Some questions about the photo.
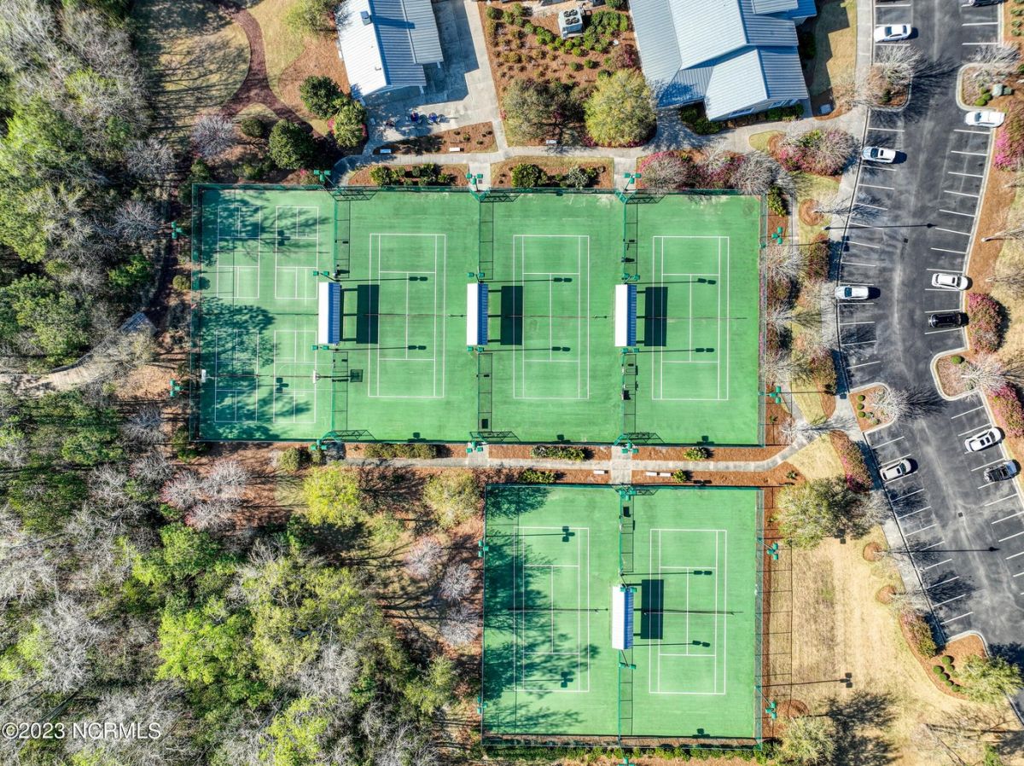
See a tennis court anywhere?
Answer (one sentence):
Yes, there's a tennis court here.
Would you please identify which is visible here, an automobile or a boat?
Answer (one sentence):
Looking from above, you can make out an automobile.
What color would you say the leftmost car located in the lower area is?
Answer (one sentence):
The color of the leftmost car located in the lower area is white.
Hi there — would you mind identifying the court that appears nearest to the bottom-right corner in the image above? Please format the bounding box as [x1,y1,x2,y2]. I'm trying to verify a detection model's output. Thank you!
[619,488,757,738]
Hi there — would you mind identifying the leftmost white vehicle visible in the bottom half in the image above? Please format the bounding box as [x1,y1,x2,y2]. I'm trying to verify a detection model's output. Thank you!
[876,458,911,481]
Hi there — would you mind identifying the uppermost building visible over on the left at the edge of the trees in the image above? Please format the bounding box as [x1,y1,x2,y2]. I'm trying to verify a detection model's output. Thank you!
[330,0,444,107]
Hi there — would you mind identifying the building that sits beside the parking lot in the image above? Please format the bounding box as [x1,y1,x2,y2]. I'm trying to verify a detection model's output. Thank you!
[631,0,816,125]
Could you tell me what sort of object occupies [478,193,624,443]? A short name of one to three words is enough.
tennis court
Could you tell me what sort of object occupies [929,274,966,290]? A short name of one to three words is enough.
car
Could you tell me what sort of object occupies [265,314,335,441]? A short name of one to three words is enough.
sports court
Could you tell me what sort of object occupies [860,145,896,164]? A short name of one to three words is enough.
car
